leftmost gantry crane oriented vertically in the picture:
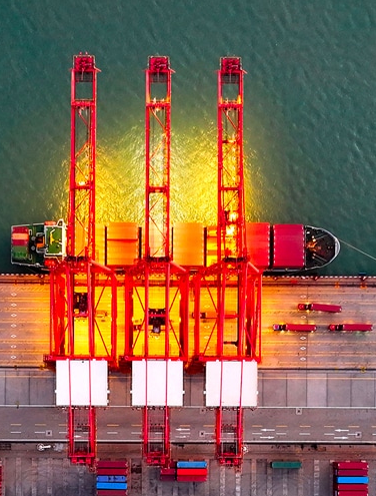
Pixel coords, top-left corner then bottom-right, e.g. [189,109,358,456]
[39,49,125,476]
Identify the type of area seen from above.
port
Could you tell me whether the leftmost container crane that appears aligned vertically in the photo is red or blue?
red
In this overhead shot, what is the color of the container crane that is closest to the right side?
red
